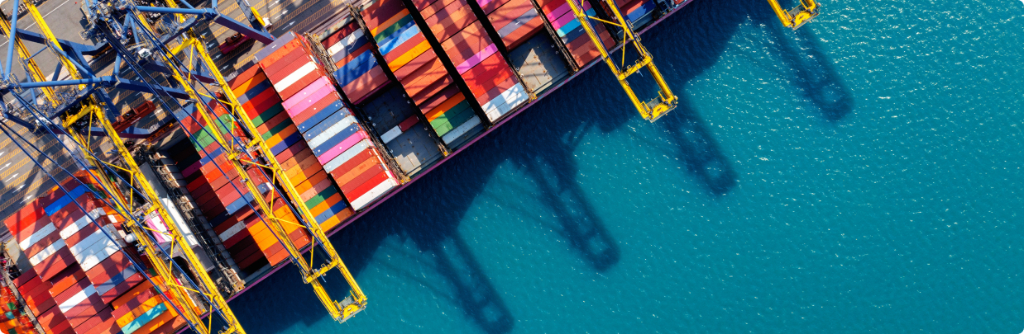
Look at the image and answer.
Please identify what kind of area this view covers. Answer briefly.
port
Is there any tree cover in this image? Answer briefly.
No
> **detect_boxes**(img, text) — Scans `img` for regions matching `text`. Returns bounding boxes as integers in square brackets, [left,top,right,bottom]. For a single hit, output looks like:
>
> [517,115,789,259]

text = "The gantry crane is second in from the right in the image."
[562,0,683,125]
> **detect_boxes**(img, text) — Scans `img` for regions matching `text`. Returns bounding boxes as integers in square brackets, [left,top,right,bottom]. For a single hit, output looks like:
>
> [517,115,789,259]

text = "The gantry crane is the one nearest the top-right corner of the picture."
[766,0,824,37]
